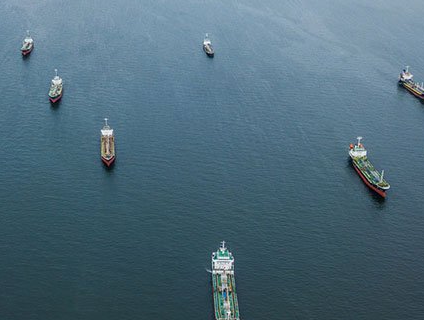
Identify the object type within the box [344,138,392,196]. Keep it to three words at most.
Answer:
ship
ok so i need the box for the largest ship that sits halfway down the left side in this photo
[101,117,115,167]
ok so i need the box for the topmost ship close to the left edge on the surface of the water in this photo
[20,32,34,54]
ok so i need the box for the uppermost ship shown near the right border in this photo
[397,68,424,101]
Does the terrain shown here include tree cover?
No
